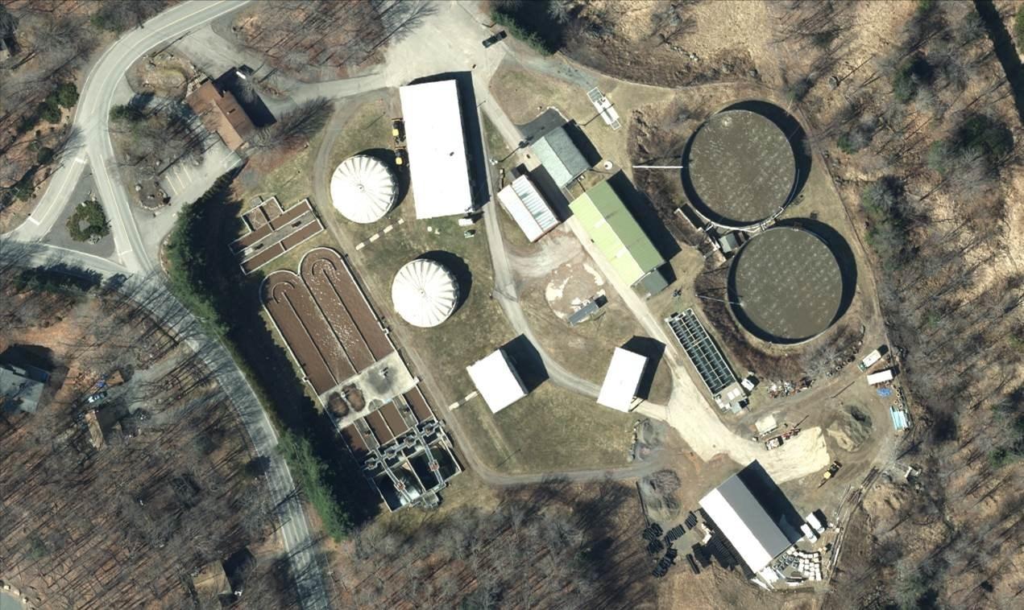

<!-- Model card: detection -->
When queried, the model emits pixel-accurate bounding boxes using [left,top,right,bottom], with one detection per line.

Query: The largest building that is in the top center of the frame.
[400,79,475,219]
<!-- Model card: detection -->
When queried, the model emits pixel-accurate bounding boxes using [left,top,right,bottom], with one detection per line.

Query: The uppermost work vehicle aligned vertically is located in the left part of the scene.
[390,115,402,137]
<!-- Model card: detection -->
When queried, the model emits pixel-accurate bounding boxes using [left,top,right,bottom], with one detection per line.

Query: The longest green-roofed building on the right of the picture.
[569,180,668,286]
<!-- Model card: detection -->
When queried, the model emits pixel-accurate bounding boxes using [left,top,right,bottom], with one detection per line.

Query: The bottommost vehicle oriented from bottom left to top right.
[815,458,843,486]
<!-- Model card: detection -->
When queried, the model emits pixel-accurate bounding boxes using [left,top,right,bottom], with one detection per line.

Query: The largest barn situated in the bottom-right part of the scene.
[699,475,793,574]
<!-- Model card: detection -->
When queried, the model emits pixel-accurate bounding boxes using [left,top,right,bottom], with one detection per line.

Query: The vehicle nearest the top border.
[482,31,504,46]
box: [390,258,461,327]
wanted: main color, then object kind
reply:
white storage tank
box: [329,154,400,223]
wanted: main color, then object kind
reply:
white storage tank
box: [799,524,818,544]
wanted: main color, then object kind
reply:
white vehicle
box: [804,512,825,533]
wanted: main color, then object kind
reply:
white truck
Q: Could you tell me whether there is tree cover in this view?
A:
Yes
